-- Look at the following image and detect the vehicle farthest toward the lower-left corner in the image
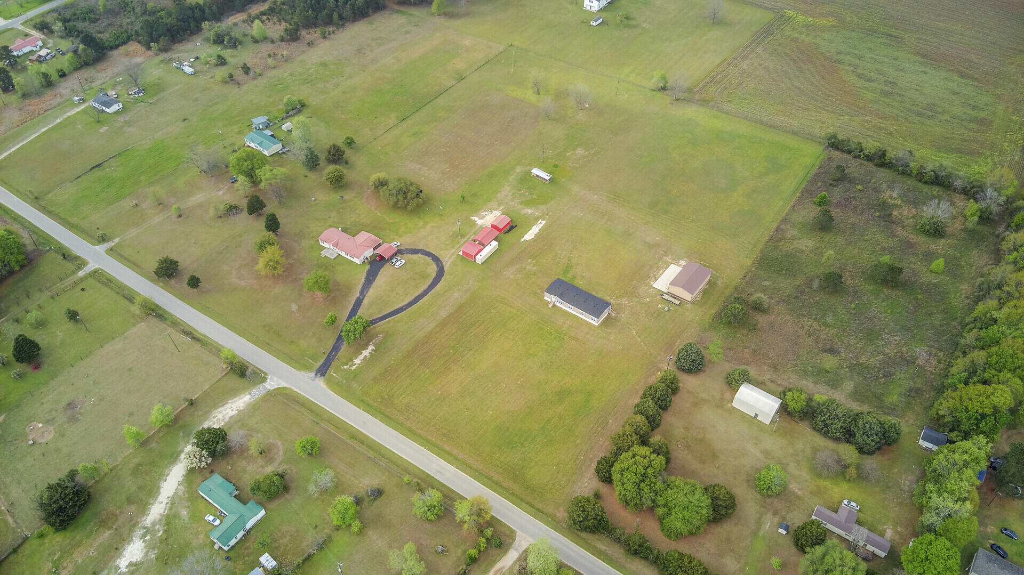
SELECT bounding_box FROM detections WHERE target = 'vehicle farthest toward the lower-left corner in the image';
[203,515,221,527]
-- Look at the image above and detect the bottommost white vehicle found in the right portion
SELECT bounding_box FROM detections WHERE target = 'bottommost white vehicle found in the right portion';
[843,498,862,512]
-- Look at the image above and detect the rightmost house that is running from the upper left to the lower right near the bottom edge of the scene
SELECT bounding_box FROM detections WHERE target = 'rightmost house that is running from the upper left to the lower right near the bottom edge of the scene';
[813,504,892,558]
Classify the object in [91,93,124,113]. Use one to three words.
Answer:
house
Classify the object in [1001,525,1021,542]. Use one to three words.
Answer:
car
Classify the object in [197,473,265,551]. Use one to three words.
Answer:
building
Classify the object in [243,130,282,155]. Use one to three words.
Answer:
house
